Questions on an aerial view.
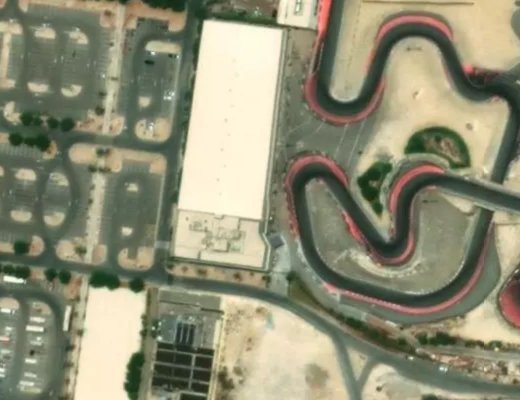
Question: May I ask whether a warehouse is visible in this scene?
Yes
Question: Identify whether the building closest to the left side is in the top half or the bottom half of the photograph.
bottom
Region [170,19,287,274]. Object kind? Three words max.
warehouse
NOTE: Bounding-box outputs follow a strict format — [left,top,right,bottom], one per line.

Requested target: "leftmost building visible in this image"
[75,288,148,400]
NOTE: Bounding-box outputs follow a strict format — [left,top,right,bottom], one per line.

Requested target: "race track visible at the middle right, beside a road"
[287,0,520,327]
